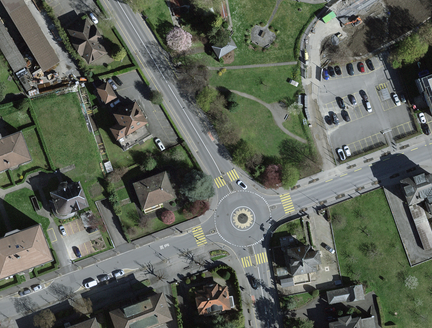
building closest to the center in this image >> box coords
[132,172,176,216]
